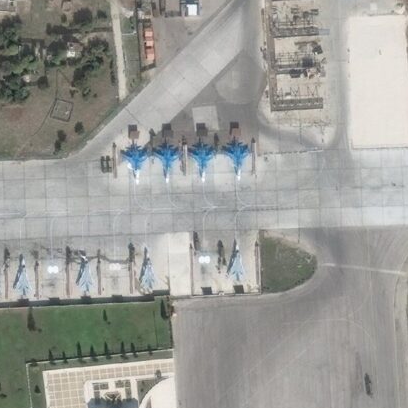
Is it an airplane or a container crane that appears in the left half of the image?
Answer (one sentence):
The one visible in the left half of the image is an airplane.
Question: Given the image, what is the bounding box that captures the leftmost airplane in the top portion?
[122,141,149,184]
